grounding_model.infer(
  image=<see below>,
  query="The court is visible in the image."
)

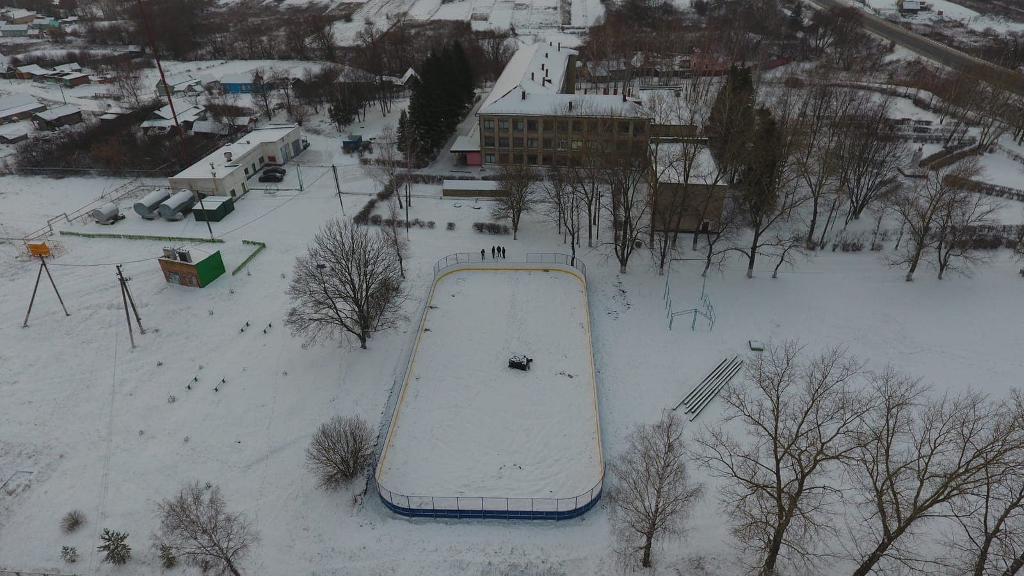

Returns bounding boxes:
[378,262,602,521]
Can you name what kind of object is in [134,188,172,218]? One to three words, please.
storage tank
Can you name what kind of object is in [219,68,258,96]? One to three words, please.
house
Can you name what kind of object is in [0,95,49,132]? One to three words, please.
house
